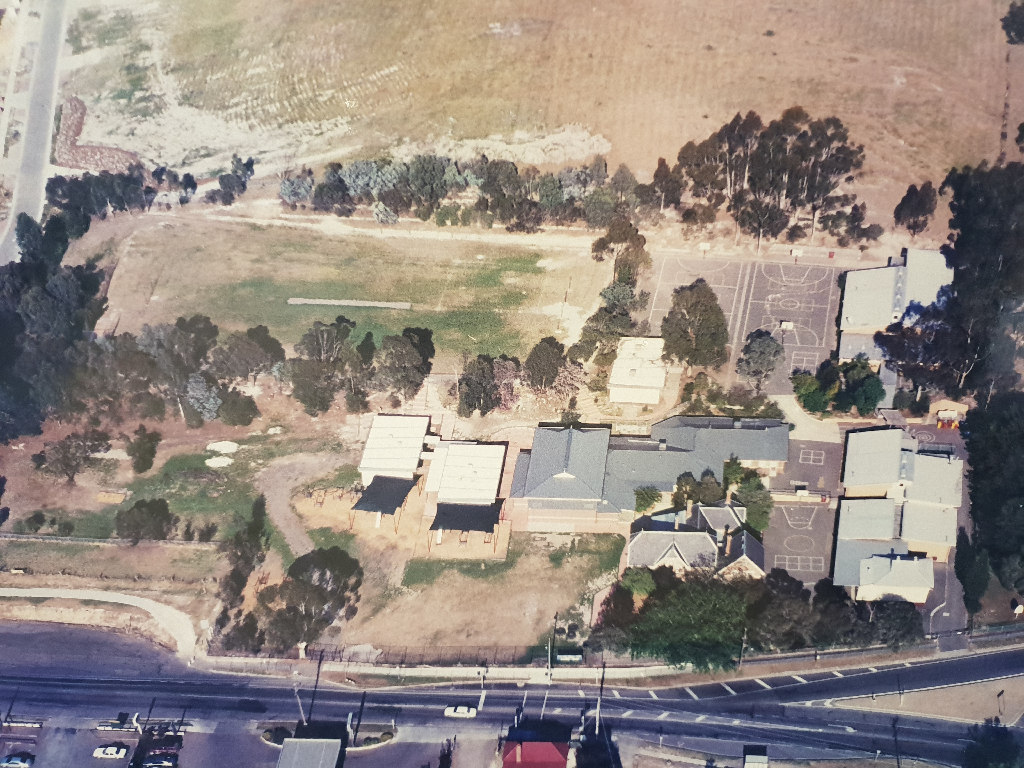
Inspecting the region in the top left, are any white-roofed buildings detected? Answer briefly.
No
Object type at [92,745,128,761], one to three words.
car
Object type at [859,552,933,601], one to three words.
house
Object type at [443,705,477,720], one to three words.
car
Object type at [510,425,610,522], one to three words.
building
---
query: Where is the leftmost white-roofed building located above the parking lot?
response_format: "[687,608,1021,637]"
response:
[358,416,429,481]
